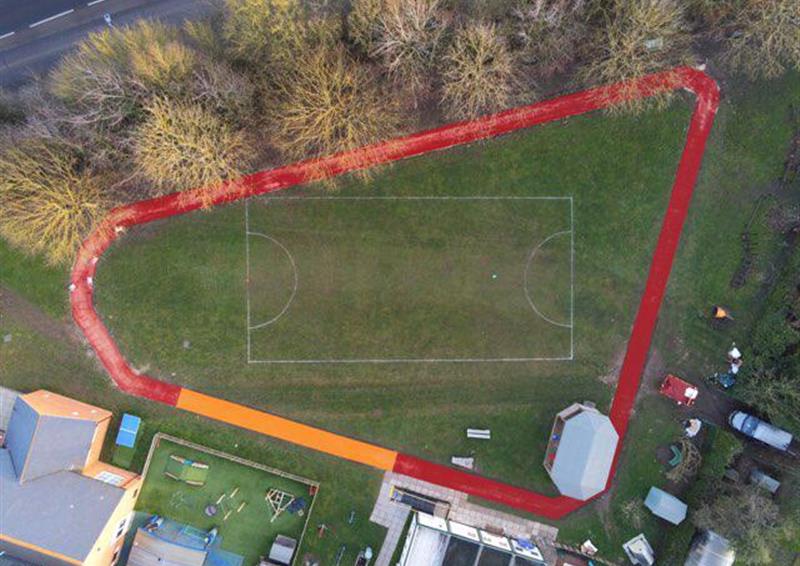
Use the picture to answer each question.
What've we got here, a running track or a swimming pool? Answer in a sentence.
This aerial view contains a running track.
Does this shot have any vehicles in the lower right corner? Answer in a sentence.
Yes, a vehicle appears in the lower right corner.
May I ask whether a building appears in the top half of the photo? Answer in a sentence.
No, there's no building to be seen in the top half of the photo.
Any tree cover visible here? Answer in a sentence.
Yes, some tree cover is visible.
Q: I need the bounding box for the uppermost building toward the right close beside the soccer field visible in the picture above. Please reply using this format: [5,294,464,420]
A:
[544,406,619,500]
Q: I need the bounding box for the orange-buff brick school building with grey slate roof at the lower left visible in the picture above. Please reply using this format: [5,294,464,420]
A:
[0,389,141,566]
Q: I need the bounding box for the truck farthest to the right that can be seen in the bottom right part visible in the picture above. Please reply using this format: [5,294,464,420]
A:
[723,405,795,454]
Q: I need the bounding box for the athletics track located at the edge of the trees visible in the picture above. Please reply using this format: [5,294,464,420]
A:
[69,65,720,521]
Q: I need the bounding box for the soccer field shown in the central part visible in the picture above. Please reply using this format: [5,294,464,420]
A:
[243,194,573,367]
